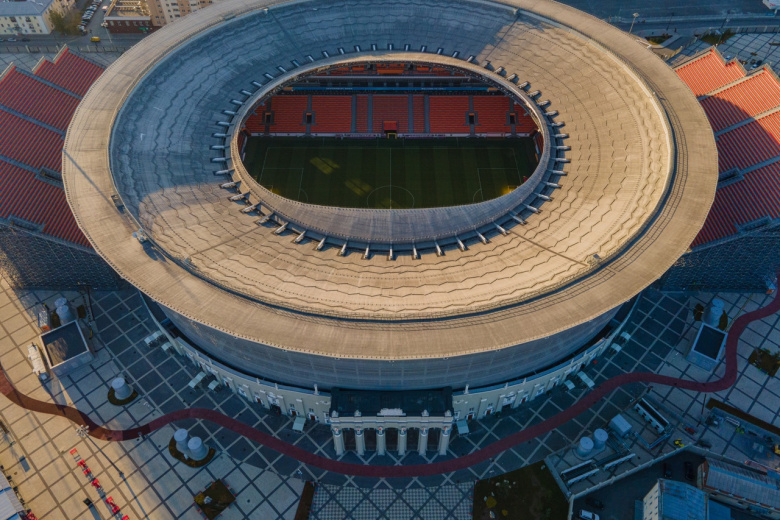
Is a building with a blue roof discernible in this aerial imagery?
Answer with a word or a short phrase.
Yes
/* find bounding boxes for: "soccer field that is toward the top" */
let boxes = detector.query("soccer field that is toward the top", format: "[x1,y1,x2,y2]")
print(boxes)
[245,142,535,252]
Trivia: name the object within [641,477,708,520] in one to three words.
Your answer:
house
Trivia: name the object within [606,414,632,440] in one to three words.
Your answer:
shed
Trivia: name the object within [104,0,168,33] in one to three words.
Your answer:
building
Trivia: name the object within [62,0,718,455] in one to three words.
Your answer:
stadium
